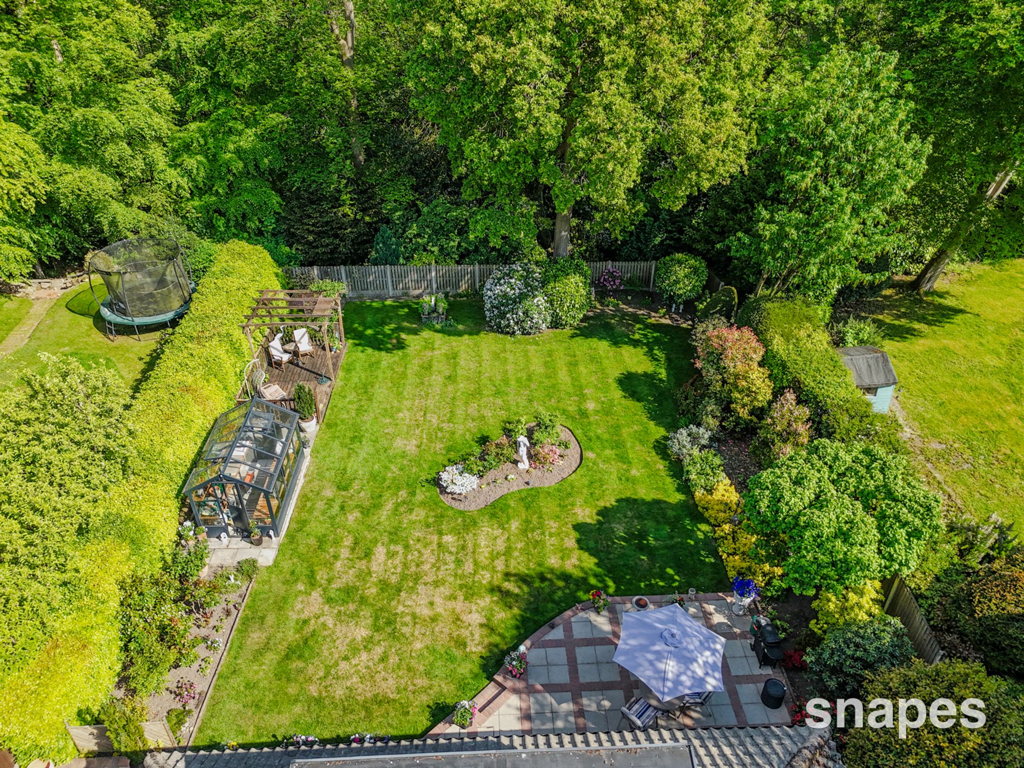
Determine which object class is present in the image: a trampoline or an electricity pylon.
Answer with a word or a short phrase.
trampoline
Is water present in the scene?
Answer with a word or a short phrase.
No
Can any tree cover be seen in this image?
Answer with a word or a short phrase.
Yes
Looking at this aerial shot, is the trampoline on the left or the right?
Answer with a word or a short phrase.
left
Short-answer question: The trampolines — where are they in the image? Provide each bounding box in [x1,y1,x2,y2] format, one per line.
[82,239,197,346]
